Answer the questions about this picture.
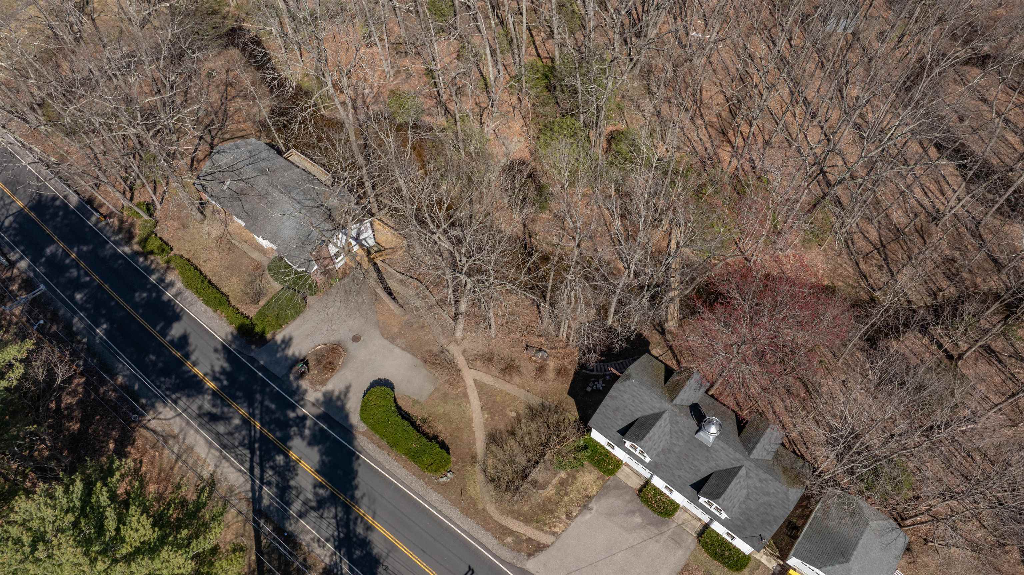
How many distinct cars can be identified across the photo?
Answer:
0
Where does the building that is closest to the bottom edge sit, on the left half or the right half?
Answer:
right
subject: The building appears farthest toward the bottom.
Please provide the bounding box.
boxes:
[781,484,910,575]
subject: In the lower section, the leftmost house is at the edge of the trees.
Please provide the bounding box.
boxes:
[588,352,810,553]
